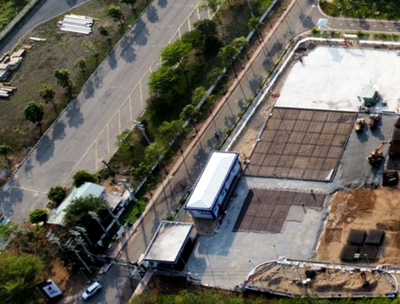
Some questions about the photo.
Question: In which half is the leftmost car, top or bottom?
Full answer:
Seen from above, the leftmost car lies in the bottom half of the view.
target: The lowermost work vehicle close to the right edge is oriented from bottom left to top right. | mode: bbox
[363,137,400,165]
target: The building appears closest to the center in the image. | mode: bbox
[183,149,244,221]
